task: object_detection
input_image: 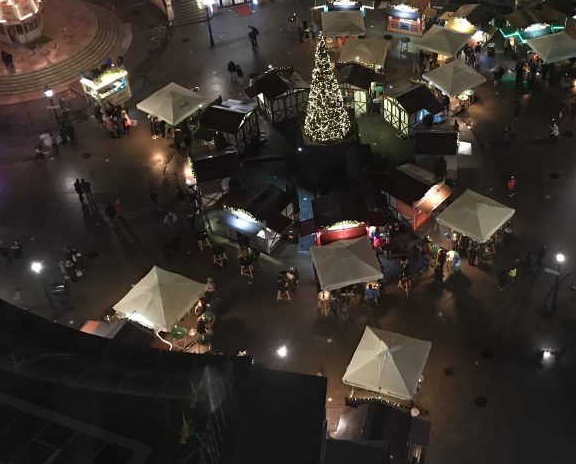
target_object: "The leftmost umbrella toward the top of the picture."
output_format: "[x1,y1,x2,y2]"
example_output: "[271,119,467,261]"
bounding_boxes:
[135,84,208,135]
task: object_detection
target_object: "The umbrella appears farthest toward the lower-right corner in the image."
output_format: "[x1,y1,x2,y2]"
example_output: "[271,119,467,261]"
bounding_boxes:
[343,326,432,402]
